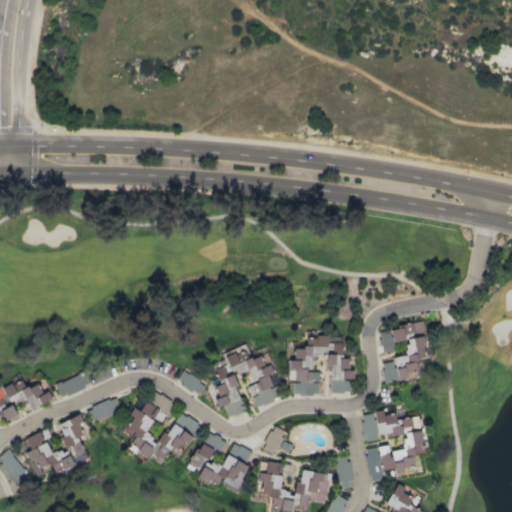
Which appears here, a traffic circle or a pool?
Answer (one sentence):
The one in the frame is a pool.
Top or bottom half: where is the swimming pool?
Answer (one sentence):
Seen from above, the swimming pool lies in the bottom half of the view.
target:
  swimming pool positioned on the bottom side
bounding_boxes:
[288,423,334,456]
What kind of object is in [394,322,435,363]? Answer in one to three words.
house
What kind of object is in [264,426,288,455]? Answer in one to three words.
building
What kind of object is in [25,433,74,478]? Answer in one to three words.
house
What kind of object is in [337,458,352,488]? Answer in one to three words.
building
